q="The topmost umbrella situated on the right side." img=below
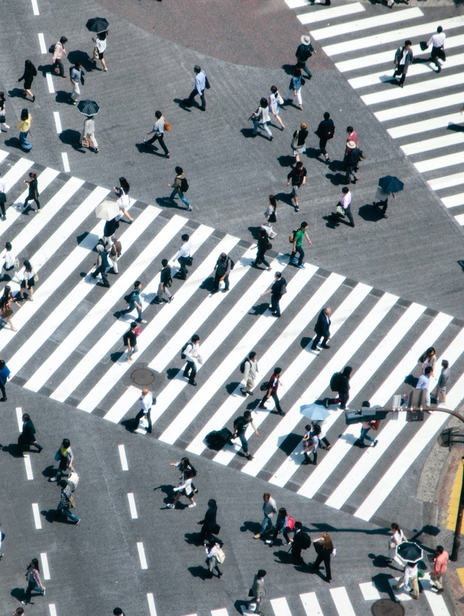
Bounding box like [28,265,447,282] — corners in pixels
[380,178,408,197]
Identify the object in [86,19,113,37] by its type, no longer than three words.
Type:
umbrella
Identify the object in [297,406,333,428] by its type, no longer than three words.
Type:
umbrella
